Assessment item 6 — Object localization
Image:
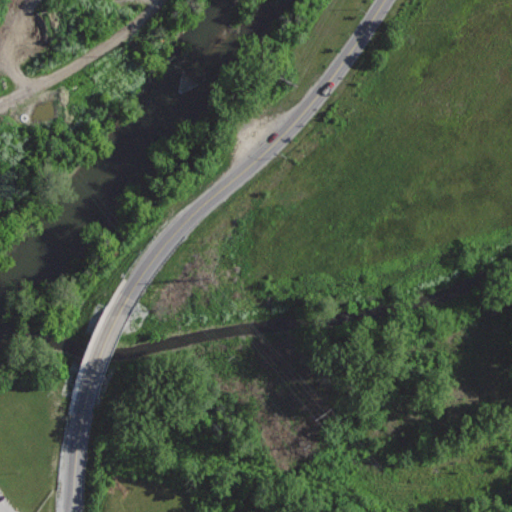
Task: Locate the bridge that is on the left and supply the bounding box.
[60,271,150,399]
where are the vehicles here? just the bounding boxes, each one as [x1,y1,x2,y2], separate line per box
[269,132,278,142]
[322,81,334,95]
